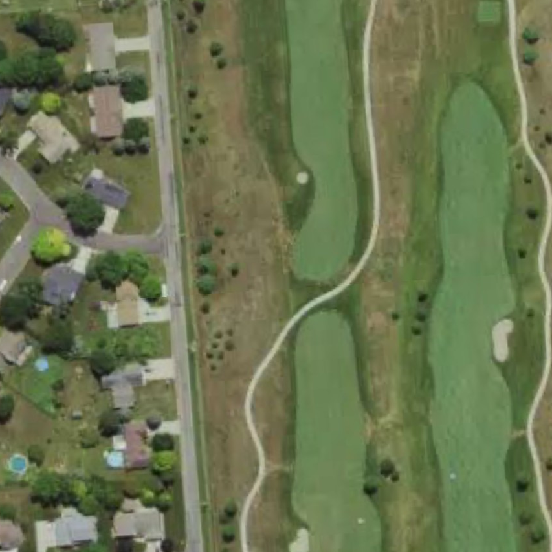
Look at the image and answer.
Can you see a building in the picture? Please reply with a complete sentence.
Yes, there's a building here.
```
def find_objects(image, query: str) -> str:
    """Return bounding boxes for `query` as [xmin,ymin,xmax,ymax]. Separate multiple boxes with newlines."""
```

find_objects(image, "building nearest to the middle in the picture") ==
[116,281,139,327]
